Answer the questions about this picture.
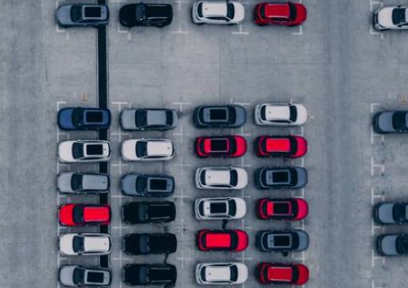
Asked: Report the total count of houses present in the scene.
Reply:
none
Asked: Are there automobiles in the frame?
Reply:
Yes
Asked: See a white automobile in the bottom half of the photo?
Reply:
Yes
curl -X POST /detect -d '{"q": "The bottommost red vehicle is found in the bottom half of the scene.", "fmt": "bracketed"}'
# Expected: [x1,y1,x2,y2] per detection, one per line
[255,261,310,287]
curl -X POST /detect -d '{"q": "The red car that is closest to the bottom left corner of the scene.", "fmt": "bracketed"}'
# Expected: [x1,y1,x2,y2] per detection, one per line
[57,202,112,229]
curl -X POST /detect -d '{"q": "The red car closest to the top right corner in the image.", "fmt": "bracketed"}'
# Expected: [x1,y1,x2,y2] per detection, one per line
[253,0,308,27]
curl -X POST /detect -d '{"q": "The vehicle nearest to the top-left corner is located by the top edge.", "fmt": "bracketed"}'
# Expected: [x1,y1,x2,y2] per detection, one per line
[54,1,109,28]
